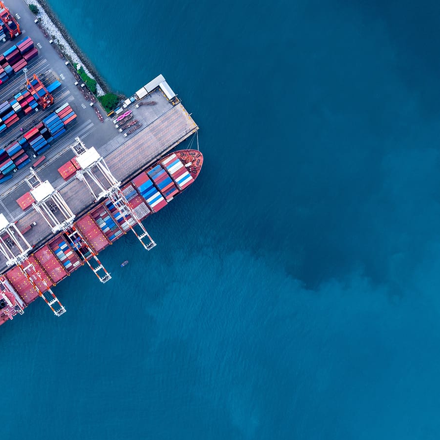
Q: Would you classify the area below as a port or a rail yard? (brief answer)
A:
port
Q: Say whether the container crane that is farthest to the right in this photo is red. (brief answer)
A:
No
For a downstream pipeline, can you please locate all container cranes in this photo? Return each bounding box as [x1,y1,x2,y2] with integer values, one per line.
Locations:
[67,135,157,250]
[24,73,55,112]
[0,213,67,316]
[21,168,111,283]
[0,2,23,45]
